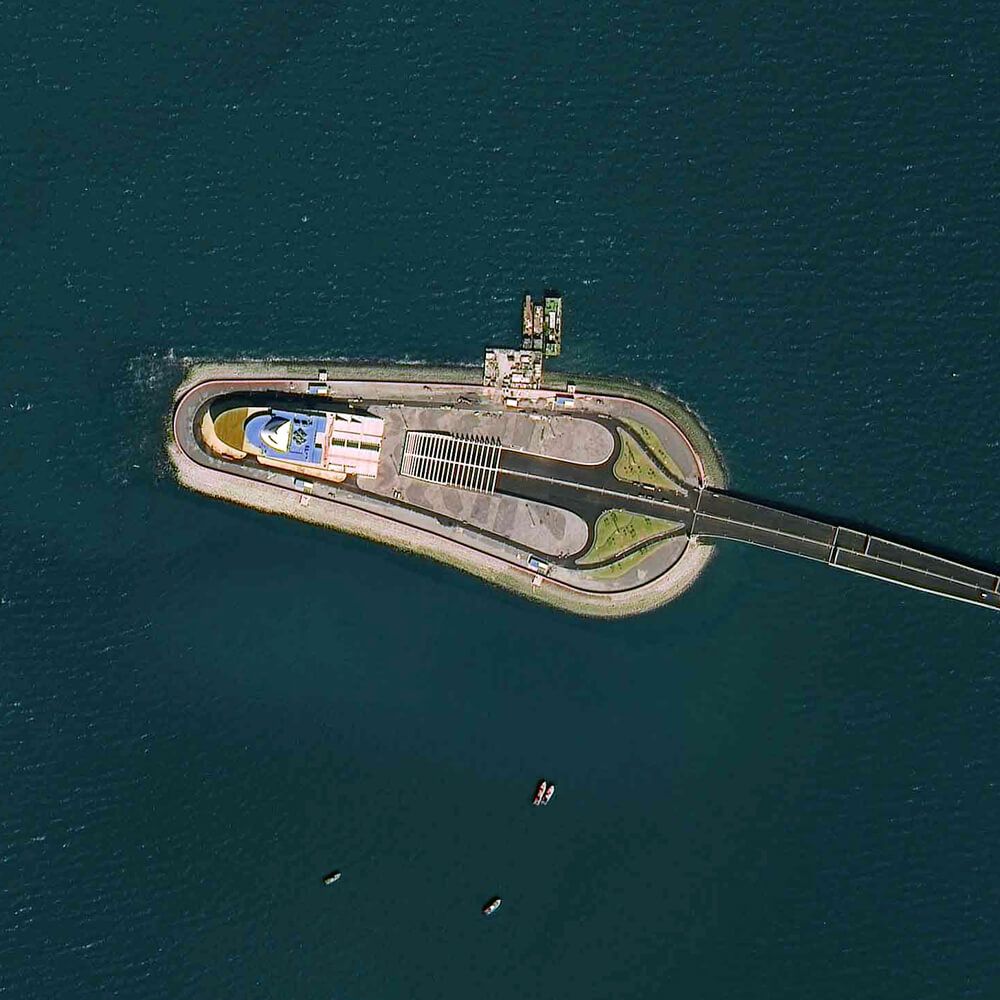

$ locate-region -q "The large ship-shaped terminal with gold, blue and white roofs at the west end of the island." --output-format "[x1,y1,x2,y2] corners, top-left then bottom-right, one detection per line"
[202,403,384,482]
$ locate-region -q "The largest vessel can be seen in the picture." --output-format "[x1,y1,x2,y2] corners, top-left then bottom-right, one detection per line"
[545,299,562,356]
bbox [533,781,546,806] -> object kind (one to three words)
boat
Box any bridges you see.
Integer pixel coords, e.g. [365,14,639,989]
[690,488,1000,610]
